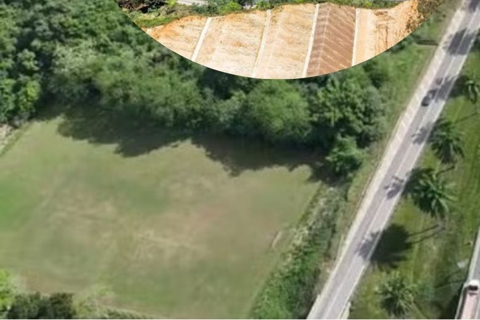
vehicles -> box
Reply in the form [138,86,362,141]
[423,90,435,105]
[460,278,480,320]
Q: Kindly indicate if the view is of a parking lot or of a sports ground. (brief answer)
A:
sports ground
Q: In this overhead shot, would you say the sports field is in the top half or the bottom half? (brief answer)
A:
bottom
